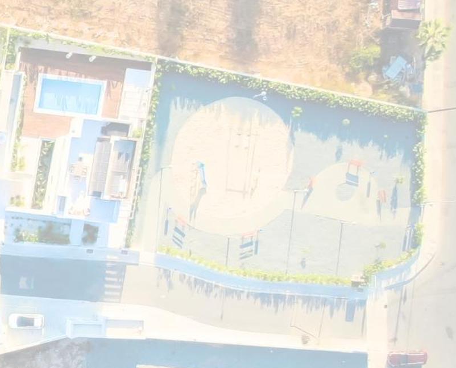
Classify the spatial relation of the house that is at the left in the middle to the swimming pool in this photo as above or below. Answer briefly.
below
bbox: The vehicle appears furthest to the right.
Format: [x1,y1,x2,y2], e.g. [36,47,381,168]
[386,350,426,367]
